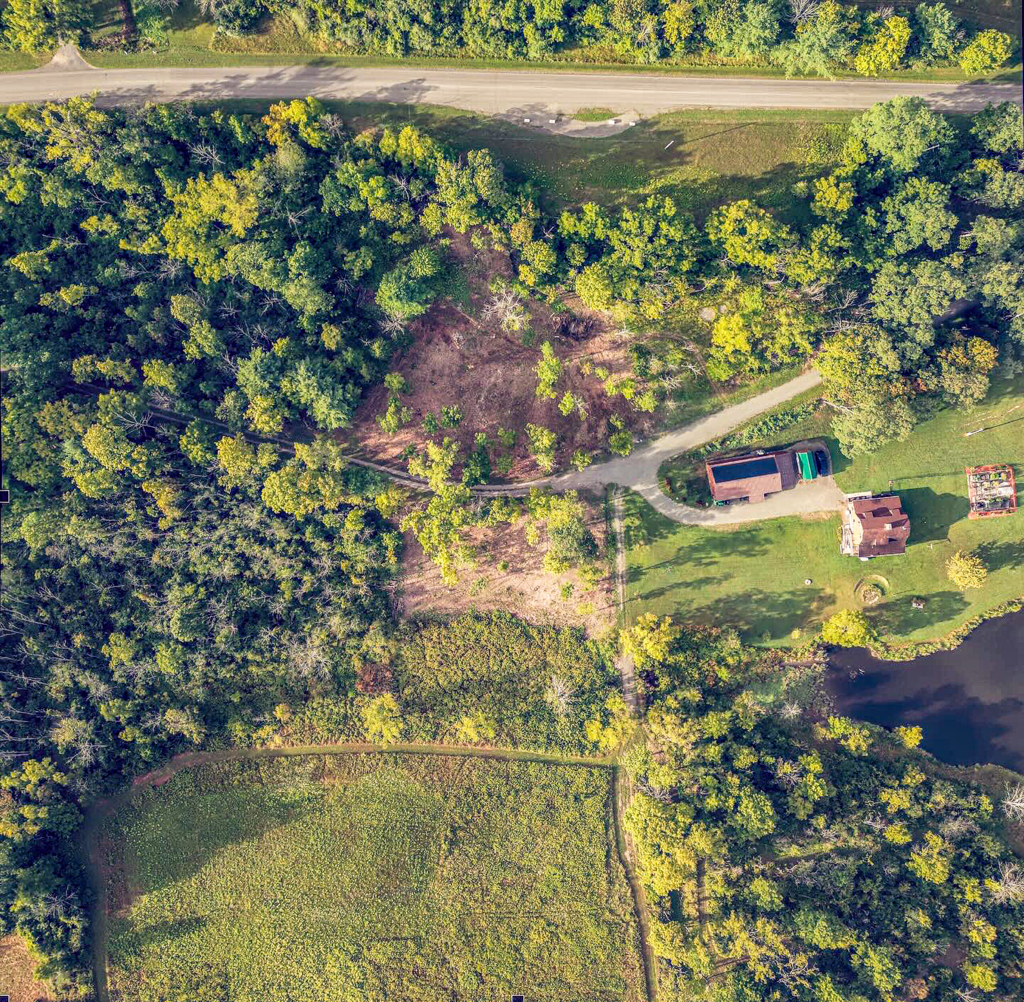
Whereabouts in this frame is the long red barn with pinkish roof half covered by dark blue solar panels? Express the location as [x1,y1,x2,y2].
[707,450,780,505]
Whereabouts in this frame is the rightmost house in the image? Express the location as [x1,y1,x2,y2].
[840,493,910,563]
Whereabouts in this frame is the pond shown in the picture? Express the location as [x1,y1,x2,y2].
[828,594,1024,772]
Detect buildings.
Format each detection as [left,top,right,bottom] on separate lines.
[840,493,910,563]
[707,450,780,505]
